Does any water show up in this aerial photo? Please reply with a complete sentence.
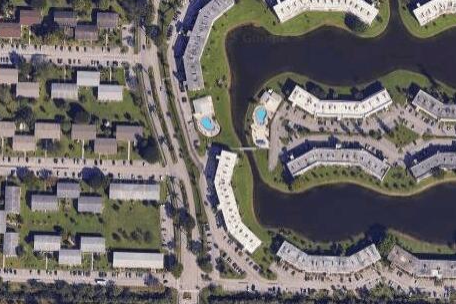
Yes, water shows up in the scene.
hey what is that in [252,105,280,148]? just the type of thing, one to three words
swimming pool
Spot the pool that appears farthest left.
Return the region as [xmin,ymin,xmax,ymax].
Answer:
[195,113,221,137]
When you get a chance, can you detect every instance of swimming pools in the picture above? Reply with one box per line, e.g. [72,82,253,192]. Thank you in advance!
[195,113,221,137]
[252,105,280,148]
